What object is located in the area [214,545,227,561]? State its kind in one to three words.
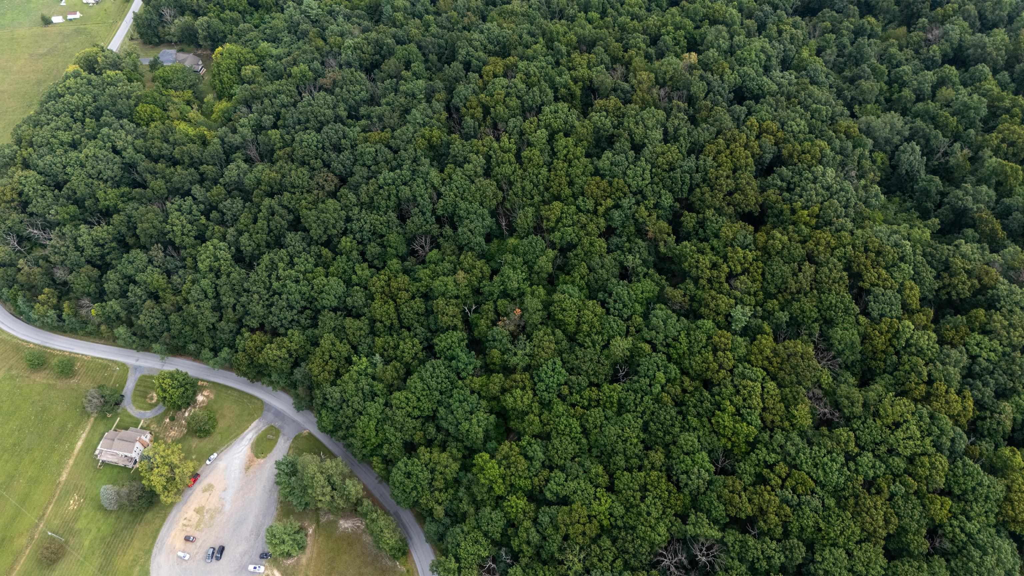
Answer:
vehicle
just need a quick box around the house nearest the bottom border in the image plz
[96,427,151,474]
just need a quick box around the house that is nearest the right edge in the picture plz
[170,51,206,77]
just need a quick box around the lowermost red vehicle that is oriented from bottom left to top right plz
[187,473,202,489]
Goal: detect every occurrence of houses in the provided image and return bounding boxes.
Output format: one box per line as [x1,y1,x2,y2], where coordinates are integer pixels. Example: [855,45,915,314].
[170,51,206,77]
[96,427,151,474]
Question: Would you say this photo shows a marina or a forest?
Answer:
forest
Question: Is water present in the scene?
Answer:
No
